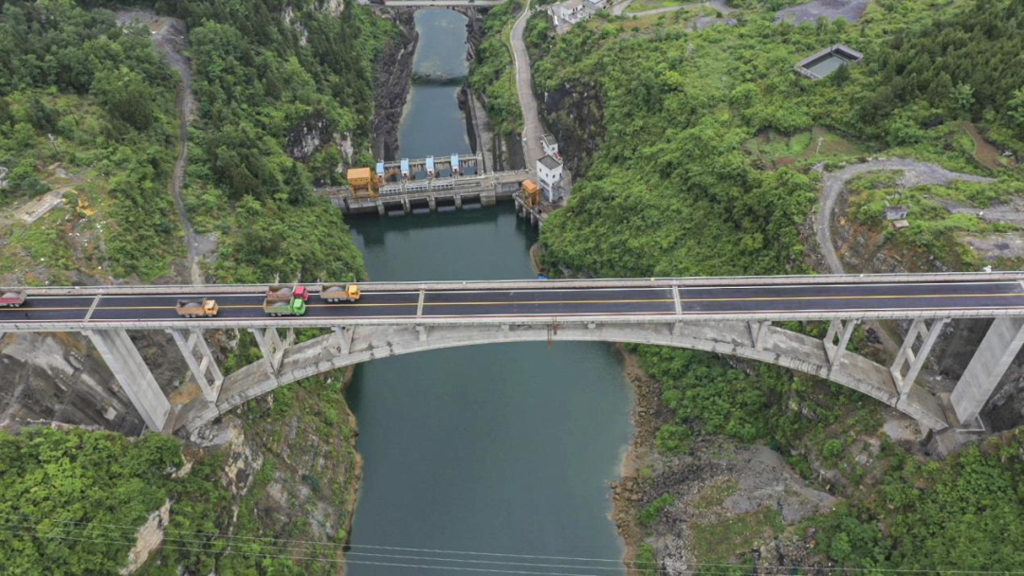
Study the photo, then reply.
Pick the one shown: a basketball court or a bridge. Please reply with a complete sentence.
This aerial view contains a bridge.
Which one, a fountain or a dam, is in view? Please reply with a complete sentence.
The image shows a dam.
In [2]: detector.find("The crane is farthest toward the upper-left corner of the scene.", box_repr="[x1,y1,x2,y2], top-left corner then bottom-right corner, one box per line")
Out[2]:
[346,169,403,200]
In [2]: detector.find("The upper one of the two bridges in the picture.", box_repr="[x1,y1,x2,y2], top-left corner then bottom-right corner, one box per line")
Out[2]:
[389,1,508,28]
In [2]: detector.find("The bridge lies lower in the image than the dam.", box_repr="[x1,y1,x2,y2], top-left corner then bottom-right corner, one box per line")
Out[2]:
[0,276,1024,457]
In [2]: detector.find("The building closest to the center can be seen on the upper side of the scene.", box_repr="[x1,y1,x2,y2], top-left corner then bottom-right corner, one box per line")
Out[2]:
[536,155,567,202]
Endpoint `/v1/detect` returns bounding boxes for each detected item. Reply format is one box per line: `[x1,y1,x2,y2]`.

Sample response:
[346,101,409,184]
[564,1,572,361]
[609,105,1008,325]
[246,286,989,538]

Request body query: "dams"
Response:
[330,150,556,235]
